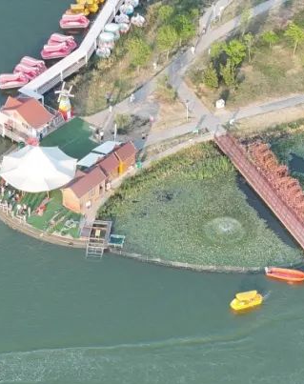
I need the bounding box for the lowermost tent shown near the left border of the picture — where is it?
[0,145,77,206]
